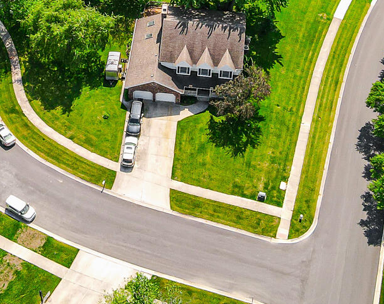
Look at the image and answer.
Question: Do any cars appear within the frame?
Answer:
Yes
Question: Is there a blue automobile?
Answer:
No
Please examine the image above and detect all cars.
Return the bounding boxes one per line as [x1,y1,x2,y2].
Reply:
[126,104,143,136]
[119,137,138,169]
[5,194,36,221]
[0,123,18,148]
